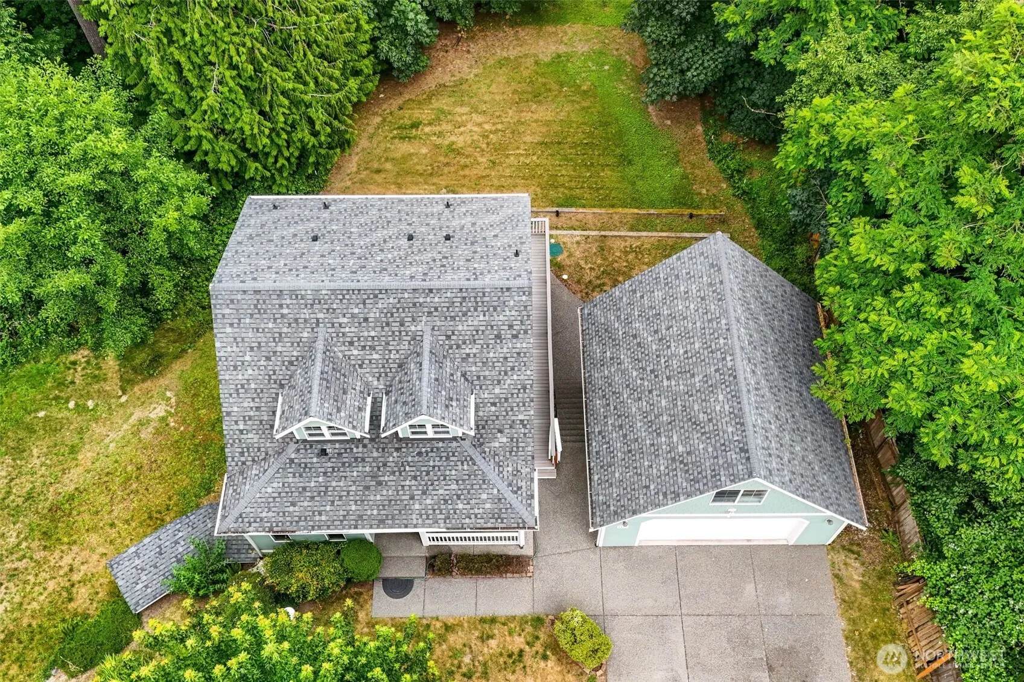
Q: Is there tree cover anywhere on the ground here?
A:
Yes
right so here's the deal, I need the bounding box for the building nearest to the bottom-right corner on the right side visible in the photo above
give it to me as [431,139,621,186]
[578,234,867,550]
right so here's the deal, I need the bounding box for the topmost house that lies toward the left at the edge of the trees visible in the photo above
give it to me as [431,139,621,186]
[211,192,538,553]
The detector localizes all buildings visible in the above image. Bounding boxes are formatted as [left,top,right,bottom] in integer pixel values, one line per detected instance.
[211,192,538,553]
[578,234,867,550]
